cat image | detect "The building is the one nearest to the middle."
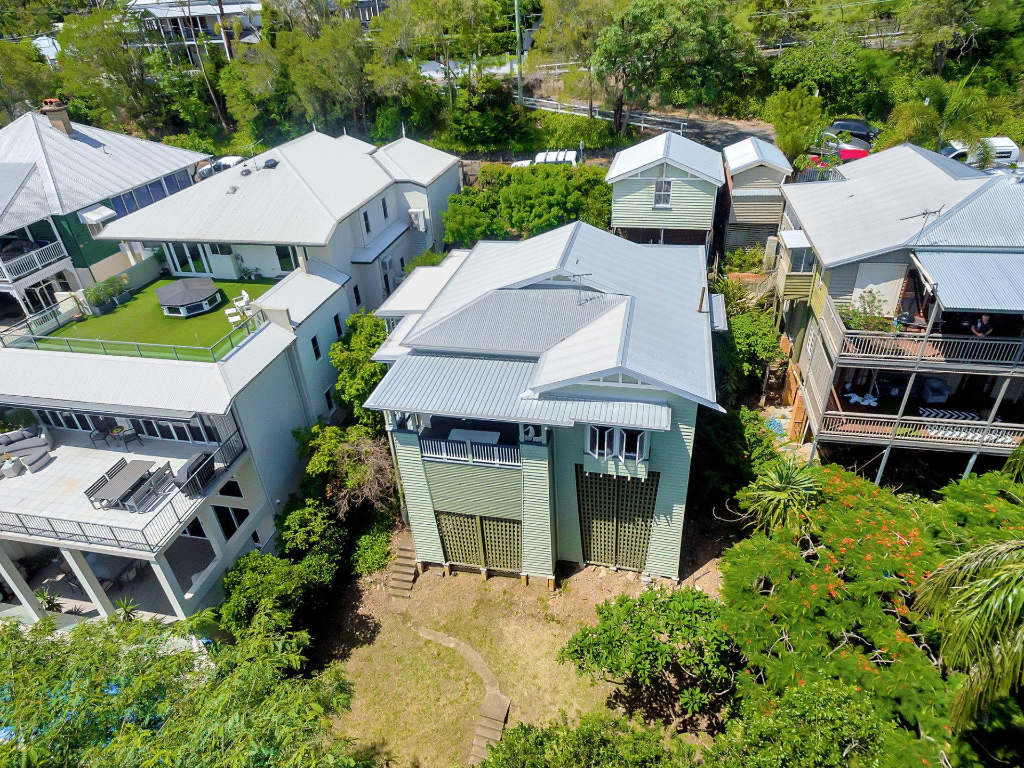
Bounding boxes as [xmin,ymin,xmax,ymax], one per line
[357,216,737,591]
